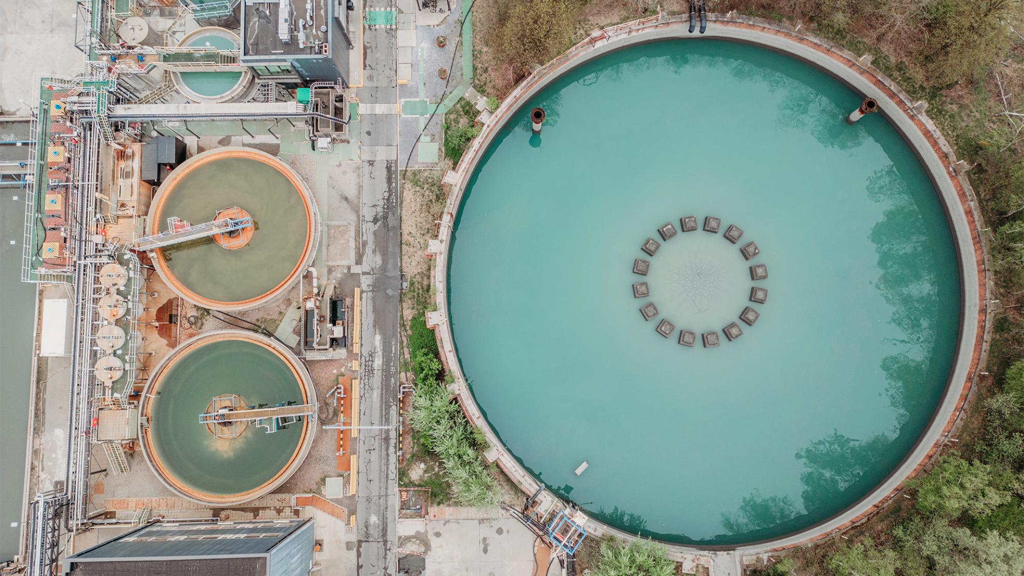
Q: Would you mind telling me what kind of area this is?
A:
industrial area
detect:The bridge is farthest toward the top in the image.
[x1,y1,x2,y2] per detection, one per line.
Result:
[79,111,353,140]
